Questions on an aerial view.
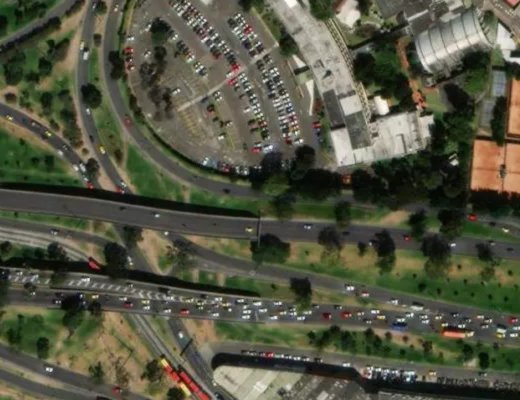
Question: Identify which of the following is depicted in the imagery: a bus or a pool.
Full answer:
Of the two, only a bus appears.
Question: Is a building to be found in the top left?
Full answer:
No, there's no building to be seen in the top left.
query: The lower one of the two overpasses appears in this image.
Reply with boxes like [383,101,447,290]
[0,267,262,323]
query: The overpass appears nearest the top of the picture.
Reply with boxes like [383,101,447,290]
[0,189,258,241]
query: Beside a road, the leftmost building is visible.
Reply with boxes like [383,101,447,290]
[213,365,307,400]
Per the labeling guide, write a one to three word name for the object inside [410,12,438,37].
building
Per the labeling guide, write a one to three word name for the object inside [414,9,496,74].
building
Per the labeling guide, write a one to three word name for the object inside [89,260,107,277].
vehicle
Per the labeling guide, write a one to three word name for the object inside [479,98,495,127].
tennis court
